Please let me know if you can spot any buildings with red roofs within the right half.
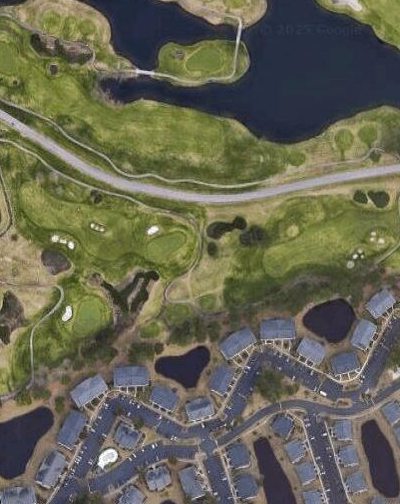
No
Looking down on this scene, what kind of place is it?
golf course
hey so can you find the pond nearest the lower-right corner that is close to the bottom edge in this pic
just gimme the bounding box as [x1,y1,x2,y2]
[363,419,400,498]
